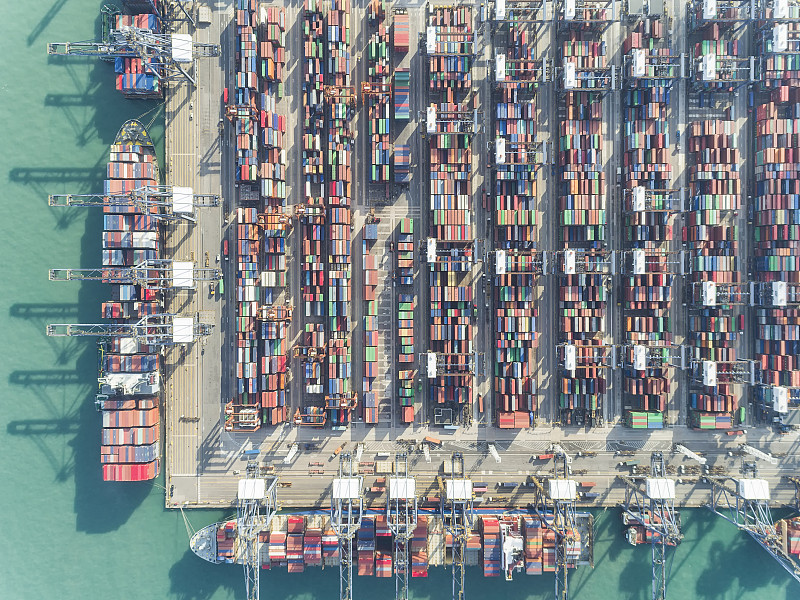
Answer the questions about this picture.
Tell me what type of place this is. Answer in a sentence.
This image shows a port.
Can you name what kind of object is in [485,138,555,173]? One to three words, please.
crane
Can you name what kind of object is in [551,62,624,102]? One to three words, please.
crane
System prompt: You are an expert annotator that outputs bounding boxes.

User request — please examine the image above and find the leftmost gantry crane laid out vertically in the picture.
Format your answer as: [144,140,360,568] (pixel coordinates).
[237,450,288,600]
